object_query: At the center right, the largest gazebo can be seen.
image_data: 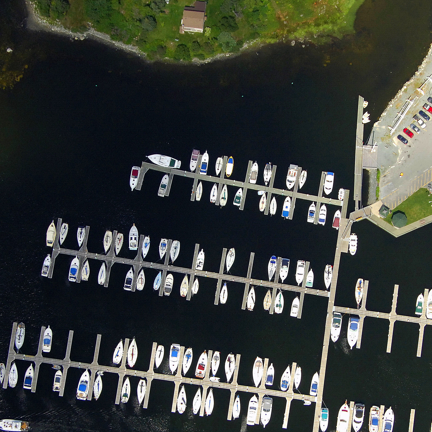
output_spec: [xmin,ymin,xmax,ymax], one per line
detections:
[391,212,406,228]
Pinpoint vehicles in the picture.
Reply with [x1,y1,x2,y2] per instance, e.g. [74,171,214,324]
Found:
[414,115,425,128]
[403,128,413,138]
[424,104,432,115]
[411,124,420,134]
[419,110,430,121]
[398,135,407,144]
